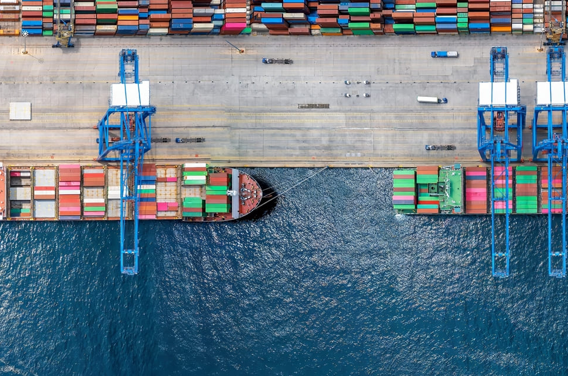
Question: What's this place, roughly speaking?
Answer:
port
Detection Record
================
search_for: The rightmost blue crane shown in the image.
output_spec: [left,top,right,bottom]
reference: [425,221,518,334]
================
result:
[516,49,568,282]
